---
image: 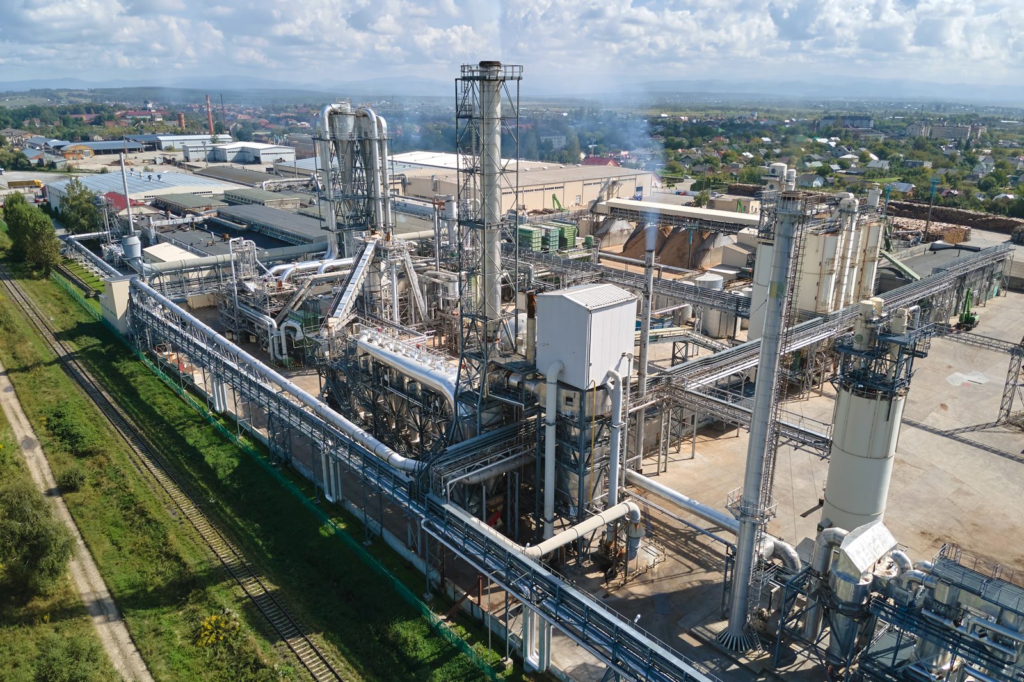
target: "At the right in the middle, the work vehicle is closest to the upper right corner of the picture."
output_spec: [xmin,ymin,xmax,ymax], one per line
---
[942,280,984,331]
